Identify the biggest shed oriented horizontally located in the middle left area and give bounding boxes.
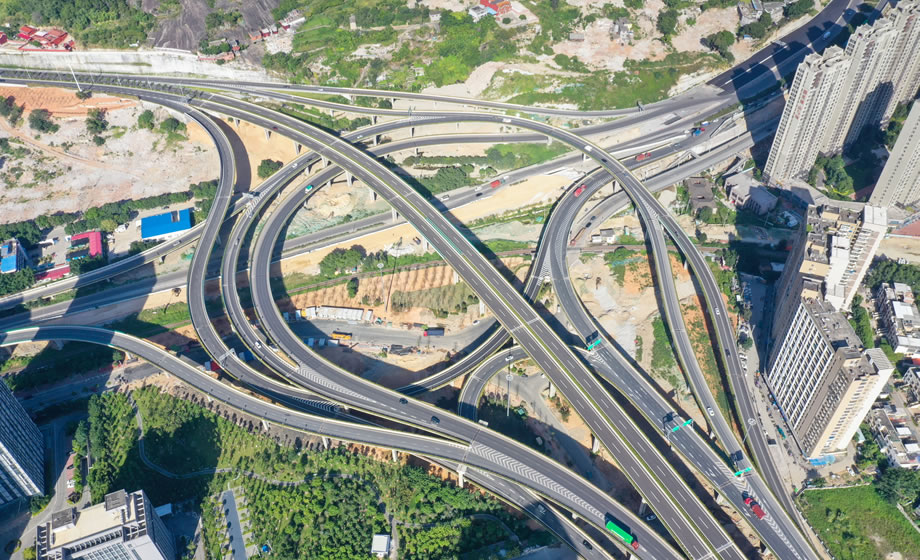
[141,210,192,242]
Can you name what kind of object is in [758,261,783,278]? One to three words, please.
shed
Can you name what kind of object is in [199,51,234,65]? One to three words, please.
house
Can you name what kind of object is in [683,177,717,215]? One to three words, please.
building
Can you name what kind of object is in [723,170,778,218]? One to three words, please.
building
